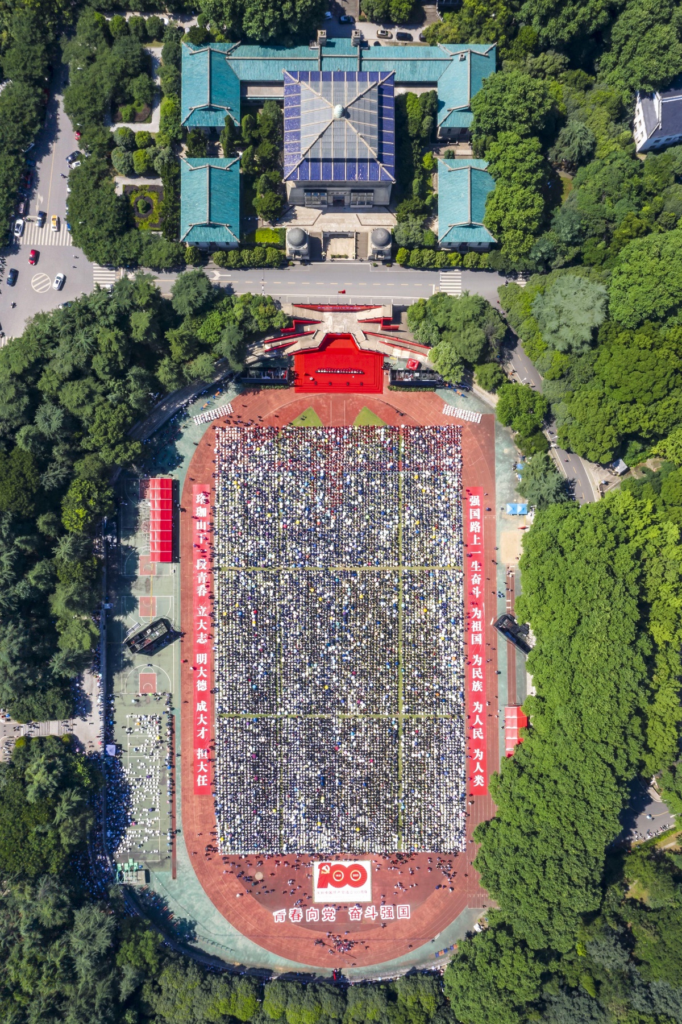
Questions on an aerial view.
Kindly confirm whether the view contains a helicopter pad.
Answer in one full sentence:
No, there appears to be no helicopter pad in this shot.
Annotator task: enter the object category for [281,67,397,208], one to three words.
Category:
building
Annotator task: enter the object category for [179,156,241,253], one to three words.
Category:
building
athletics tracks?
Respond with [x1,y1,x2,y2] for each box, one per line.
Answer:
[182,366,498,966]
